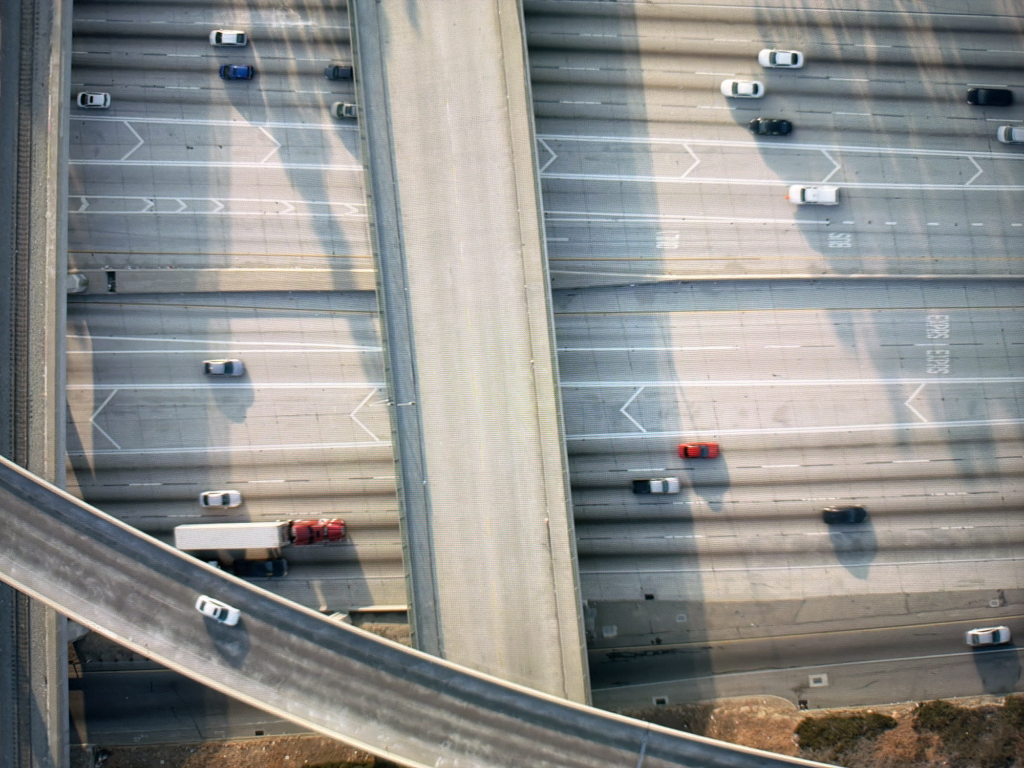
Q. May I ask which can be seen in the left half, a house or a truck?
truck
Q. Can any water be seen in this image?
No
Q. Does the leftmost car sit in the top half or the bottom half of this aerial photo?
top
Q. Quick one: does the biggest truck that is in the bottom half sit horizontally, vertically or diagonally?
horizontally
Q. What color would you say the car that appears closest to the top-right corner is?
black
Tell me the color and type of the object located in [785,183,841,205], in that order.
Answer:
white truck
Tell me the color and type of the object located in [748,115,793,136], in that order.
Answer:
black car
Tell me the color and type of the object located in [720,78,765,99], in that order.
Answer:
white car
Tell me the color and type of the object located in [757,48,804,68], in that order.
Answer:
white car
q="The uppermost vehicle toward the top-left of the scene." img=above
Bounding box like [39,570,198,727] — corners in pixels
[209,27,249,48]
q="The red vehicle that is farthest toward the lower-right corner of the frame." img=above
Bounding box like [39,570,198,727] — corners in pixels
[678,442,720,461]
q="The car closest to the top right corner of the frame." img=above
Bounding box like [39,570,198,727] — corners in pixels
[966,85,1015,107]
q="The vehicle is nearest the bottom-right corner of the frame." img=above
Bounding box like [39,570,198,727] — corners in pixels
[965,625,1011,646]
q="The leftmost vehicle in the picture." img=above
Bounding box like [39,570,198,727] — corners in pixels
[76,89,113,109]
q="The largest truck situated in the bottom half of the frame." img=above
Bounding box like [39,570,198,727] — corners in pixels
[175,513,350,549]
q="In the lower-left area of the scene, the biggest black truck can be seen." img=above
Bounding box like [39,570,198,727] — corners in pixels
[231,557,290,580]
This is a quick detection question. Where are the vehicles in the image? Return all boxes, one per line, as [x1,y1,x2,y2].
[175,513,350,549]
[965,625,1011,646]
[197,490,243,510]
[996,124,1024,144]
[231,557,290,580]
[631,476,680,497]
[76,89,113,109]
[218,61,256,81]
[748,115,793,136]
[720,78,765,99]
[823,505,868,526]
[201,359,246,378]
[966,85,1015,107]
[785,183,841,205]
[209,27,249,48]
[678,442,720,461]
[757,48,804,68]
[323,61,360,83]
[330,99,363,119]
